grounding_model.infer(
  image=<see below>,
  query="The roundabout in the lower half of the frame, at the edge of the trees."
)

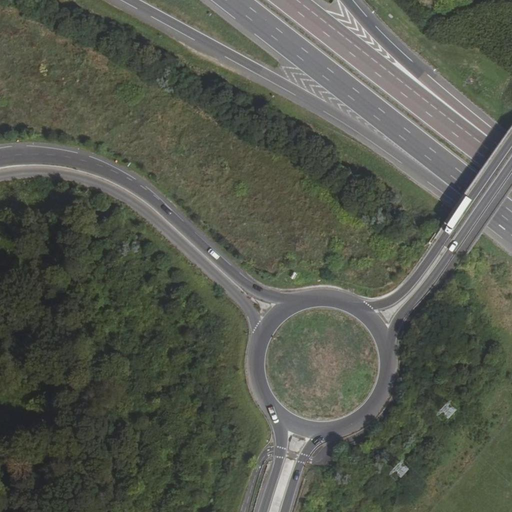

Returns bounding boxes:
[246,282,398,440]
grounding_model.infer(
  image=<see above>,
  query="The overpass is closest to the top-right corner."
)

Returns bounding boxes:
[443,124,512,253]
